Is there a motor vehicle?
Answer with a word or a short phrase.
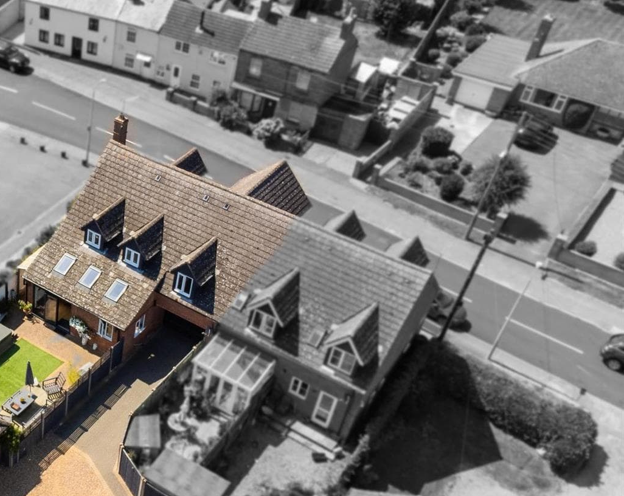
Yes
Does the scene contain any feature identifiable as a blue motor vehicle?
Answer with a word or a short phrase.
No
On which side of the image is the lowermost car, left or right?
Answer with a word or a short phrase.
right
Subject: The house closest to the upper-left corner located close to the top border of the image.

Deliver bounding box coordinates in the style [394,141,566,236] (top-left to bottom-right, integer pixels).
[26,0,124,68]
